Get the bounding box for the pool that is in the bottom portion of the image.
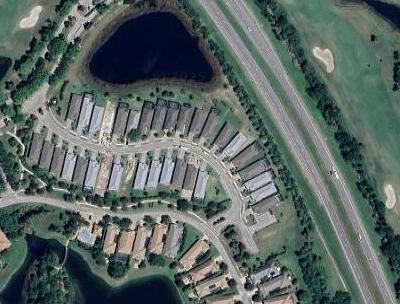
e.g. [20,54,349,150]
[78,227,96,244]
